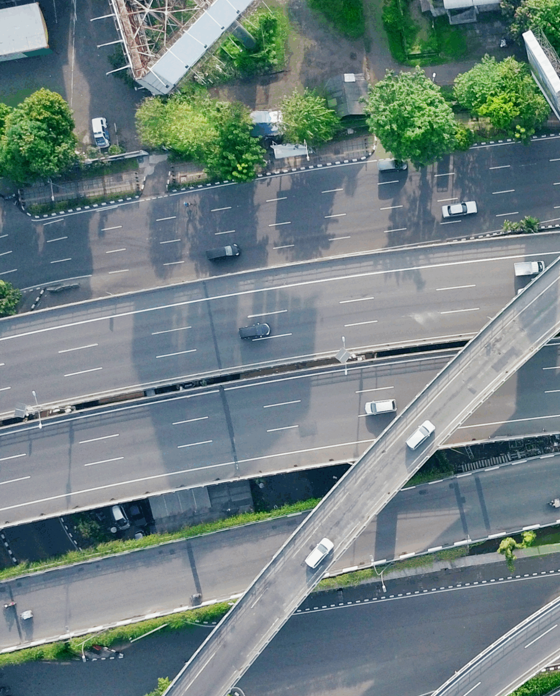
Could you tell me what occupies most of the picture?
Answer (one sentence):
What you mostly see from above here is paved ground.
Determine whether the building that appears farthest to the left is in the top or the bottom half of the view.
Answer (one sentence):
It is in the top half that the building that appears farthest to the left appears.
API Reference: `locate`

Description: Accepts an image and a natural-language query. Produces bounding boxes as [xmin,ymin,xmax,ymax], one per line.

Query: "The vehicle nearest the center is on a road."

[237,322,271,341]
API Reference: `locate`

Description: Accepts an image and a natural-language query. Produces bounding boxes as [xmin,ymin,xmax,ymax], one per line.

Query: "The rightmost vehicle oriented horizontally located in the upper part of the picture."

[513,259,545,276]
